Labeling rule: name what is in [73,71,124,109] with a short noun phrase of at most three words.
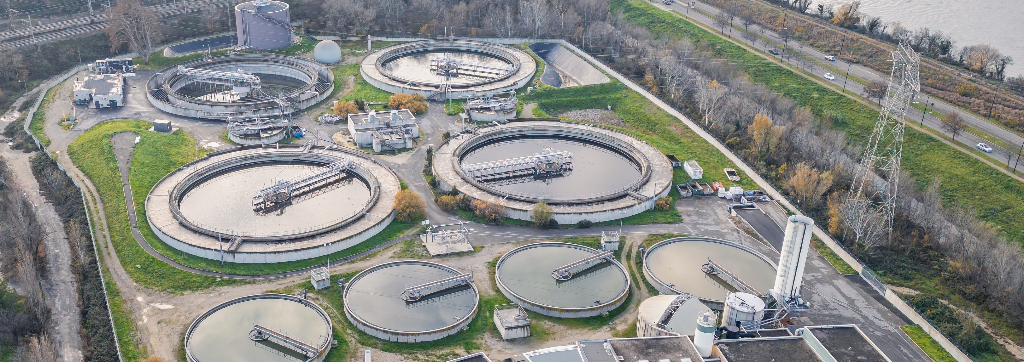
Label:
building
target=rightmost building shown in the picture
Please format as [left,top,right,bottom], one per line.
[803,325,892,362]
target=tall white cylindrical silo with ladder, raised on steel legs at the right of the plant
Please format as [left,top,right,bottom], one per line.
[769,215,820,326]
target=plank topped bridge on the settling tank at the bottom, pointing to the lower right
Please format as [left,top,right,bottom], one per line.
[247,319,318,356]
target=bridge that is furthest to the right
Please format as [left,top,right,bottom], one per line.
[697,258,759,296]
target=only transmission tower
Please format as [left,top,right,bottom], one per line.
[846,34,922,247]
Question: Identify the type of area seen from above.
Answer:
industrial area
